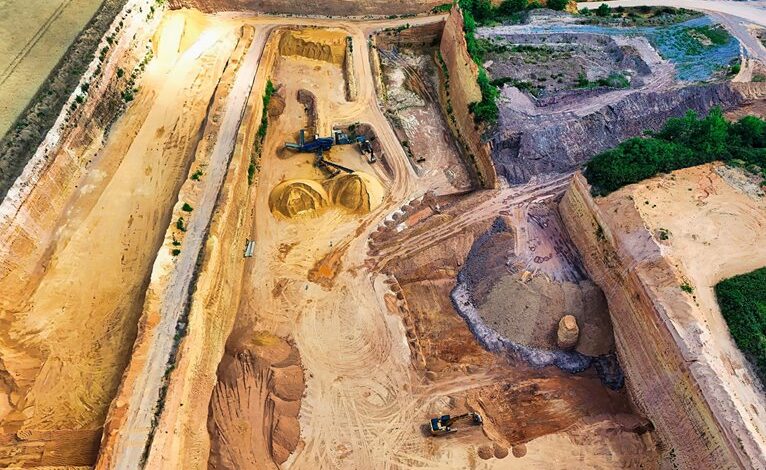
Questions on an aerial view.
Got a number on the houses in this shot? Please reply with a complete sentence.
No houses are visible.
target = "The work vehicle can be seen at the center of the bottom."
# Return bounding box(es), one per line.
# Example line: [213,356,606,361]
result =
[426,414,482,436]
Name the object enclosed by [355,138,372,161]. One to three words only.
work vehicle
